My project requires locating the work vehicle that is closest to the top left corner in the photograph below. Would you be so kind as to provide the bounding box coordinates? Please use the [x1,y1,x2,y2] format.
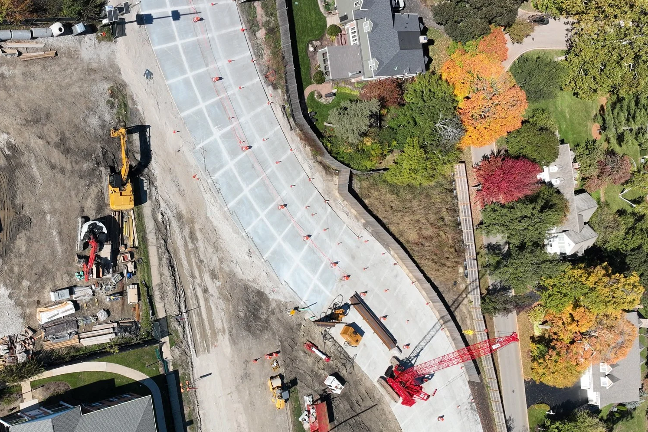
[103,126,134,211]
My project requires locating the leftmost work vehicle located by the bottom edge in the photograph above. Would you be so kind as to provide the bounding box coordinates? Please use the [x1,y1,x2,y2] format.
[271,376,293,411]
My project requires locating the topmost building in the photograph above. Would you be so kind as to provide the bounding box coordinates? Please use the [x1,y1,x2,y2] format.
[316,0,427,83]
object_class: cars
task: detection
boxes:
[537,14,548,26]
[391,0,411,12]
